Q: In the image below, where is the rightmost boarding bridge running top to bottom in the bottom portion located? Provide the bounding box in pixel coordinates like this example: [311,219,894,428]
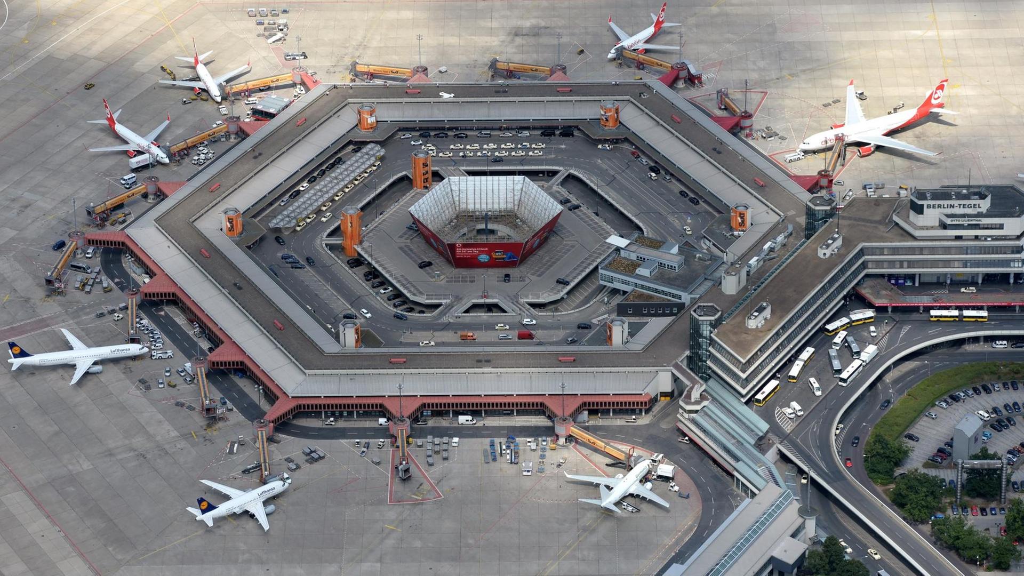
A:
[395,428,413,476]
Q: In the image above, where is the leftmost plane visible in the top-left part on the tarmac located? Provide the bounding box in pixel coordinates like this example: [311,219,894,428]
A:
[88,102,174,165]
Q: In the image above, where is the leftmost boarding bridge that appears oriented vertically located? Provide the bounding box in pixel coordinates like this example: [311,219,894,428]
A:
[126,297,141,345]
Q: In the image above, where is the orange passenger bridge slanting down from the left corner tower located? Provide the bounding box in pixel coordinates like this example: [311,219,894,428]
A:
[45,239,80,285]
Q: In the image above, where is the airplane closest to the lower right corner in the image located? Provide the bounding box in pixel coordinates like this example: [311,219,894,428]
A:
[566,459,672,517]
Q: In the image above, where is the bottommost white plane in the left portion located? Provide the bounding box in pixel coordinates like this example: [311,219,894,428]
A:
[182,478,289,529]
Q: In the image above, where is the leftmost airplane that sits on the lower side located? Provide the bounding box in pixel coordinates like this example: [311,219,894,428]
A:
[9,328,149,386]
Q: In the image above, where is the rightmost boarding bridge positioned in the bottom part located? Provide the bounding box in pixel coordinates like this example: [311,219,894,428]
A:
[566,425,637,474]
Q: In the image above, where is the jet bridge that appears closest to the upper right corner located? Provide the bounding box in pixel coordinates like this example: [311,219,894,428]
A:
[824,130,848,173]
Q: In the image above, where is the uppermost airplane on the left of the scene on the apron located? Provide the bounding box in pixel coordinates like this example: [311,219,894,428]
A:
[157,39,252,104]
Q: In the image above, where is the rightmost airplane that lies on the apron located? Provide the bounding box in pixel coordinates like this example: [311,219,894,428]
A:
[798,80,959,157]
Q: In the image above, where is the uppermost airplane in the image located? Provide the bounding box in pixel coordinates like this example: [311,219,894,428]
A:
[604,2,683,61]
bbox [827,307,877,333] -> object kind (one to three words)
bus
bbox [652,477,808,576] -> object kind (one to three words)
building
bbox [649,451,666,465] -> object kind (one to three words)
vehicle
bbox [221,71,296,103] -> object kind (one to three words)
jet bridge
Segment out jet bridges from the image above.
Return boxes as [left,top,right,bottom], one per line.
[162,122,230,159]
[86,183,149,219]
[824,130,848,173]
[395,428,413,476]
[196,367,217,418]
[566,425,637,474]
[347,64,413,84]
[486,62,552,83]
[715,88,745,117]
[616,47,673,74]
[221,71,296,103]
[256,429,274,485]
[45,239,80,285]
[126,297,141,345]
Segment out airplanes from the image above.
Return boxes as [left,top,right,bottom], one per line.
[604,2,683,61]
[88,102,174,165]
[566,459,672,517]
[182,478,289,529]
[798,80,959,157]
[157,39,252,104]
[9,328,149,386]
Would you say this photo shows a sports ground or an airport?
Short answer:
airport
